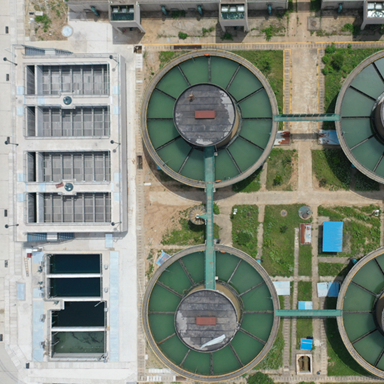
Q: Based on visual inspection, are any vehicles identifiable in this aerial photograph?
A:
No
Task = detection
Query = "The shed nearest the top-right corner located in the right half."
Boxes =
[318,129,340,145]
